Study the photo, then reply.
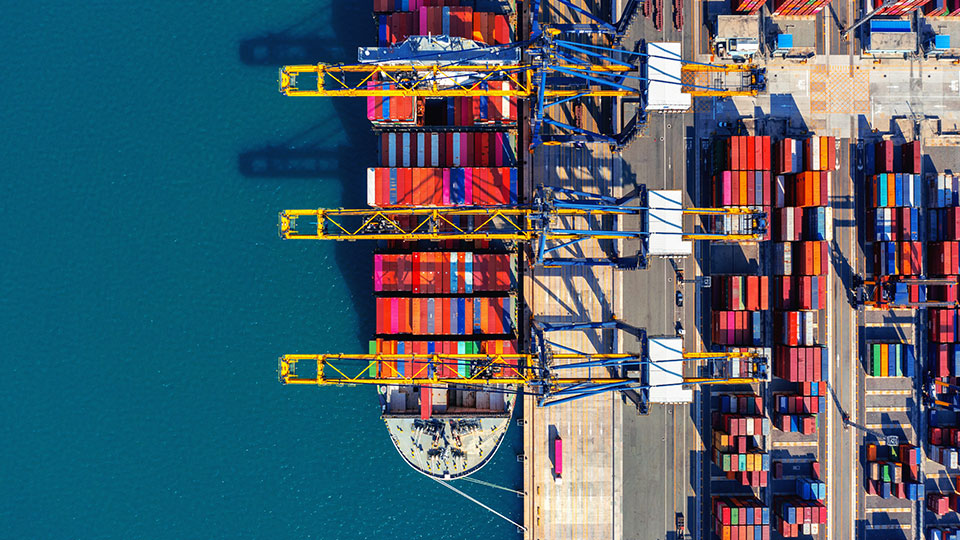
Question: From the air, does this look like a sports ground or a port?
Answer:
port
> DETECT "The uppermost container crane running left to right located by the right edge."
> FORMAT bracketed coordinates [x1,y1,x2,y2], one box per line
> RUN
[854,275,960,309]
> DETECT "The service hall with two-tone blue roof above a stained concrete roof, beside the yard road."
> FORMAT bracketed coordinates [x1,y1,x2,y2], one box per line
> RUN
[860,11,917,59]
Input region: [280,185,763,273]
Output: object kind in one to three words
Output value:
container crane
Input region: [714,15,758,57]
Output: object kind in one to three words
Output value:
building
